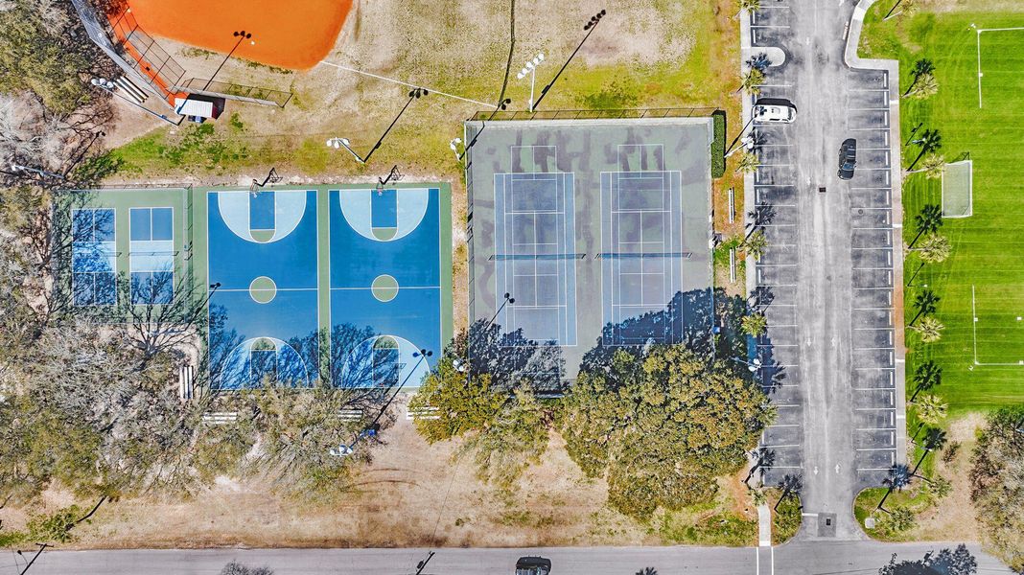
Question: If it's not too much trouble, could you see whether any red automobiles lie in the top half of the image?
No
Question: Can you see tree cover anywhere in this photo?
Yes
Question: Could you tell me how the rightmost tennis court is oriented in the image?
from top to bottom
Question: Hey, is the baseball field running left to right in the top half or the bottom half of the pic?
top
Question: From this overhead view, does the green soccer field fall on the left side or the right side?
right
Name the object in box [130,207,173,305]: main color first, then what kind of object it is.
blue sports court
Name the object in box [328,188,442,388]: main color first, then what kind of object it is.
blue basketball court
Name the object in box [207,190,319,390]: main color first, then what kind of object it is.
blue basketball court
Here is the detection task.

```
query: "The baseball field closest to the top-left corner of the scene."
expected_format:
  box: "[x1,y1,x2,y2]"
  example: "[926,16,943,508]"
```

[101,0,498,107]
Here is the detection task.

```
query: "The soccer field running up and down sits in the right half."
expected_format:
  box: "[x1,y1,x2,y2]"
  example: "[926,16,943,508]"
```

[937,22,1024,371]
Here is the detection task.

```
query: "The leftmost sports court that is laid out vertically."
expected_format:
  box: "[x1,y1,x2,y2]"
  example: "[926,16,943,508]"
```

[72,208,116,305]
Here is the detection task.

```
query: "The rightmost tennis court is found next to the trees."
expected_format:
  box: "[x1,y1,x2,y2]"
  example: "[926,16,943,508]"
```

[600,145,683,373]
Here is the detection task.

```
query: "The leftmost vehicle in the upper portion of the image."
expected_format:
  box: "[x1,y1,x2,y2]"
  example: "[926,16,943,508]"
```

[754,104,794,123]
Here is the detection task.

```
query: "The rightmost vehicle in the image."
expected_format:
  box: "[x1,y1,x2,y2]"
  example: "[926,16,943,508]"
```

[836,145,855,181]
